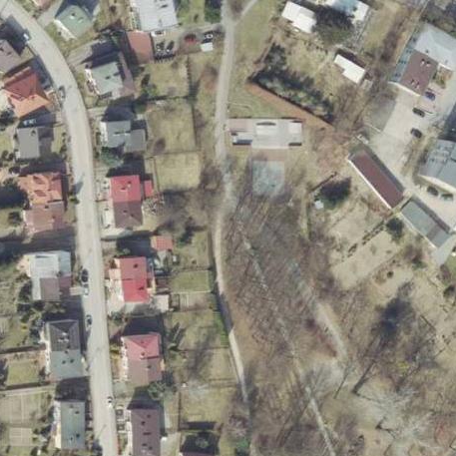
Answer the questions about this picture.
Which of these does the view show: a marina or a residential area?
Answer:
residential area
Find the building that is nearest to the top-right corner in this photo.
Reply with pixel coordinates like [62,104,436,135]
[408,23,456,71]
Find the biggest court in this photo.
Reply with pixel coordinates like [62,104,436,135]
[251,160,286,198]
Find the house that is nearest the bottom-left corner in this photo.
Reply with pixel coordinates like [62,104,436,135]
[52,400,85,449]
